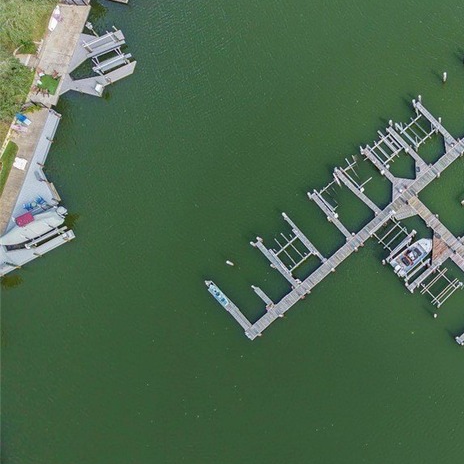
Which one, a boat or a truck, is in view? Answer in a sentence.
This aerial view contains a boat.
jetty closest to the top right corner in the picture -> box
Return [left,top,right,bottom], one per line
[412,94,457,143]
